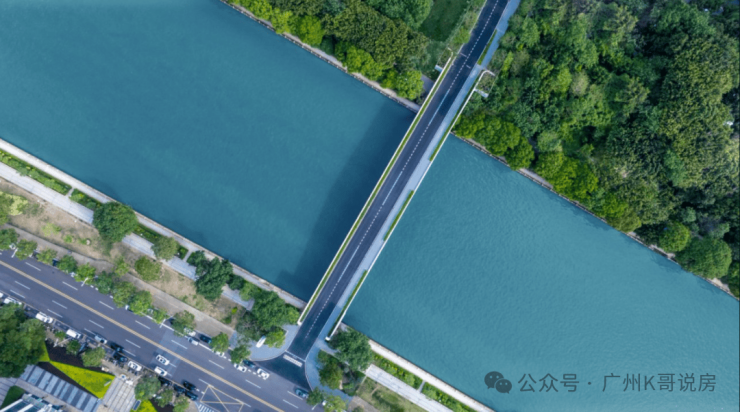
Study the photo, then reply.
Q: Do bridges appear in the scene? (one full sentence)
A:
Yes, the frame does contain a bridge.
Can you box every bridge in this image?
[299,60,481,339]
